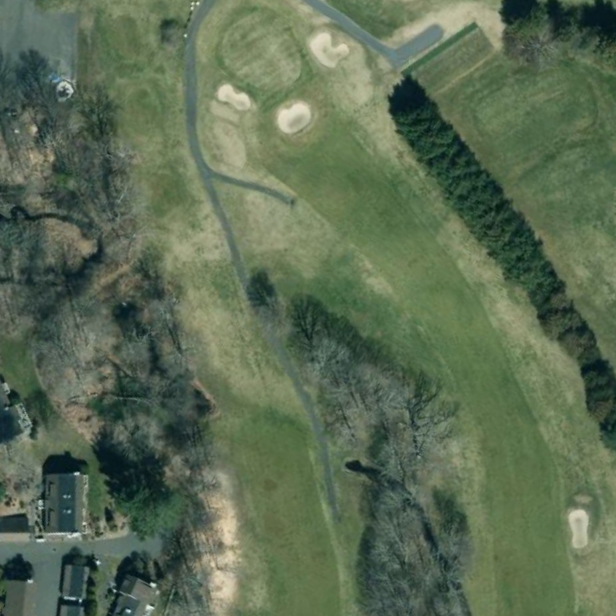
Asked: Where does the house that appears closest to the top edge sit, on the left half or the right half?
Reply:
left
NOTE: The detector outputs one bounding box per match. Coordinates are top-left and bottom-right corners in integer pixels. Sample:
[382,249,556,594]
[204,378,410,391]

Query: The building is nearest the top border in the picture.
[0,380,34,454]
